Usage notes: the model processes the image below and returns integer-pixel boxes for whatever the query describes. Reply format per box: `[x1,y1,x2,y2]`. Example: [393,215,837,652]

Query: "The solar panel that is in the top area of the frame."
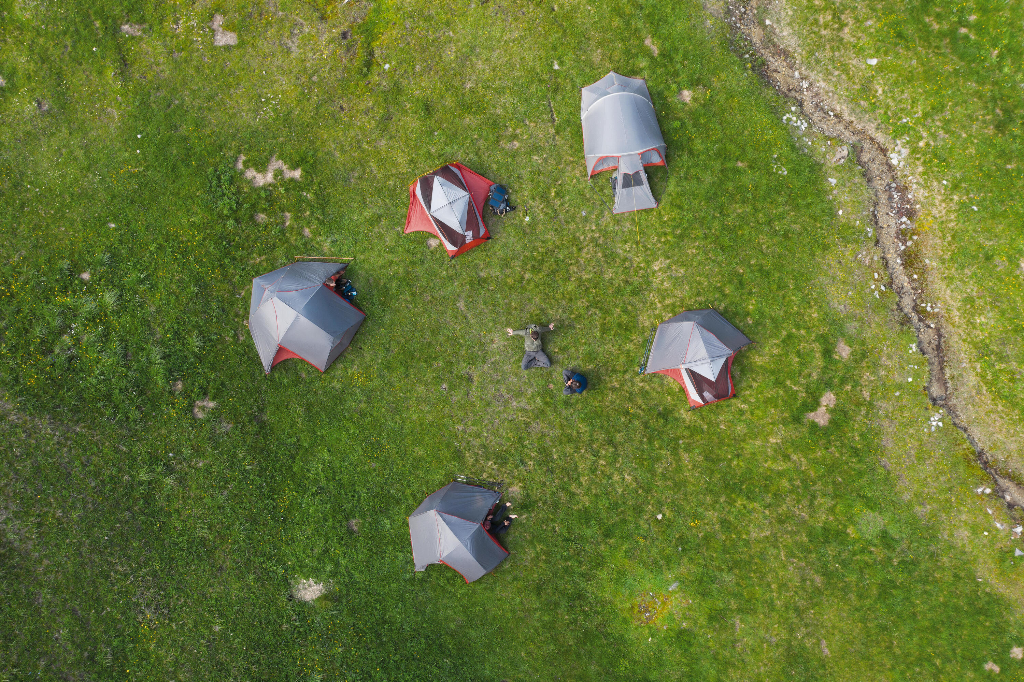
[489,186,507,208]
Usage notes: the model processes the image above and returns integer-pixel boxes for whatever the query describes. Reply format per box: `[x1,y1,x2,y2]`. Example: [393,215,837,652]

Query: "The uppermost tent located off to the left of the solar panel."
[401,160,495,262]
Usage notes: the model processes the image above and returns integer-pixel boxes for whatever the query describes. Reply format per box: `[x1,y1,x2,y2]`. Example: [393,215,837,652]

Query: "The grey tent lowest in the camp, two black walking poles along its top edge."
[406,479,513,584]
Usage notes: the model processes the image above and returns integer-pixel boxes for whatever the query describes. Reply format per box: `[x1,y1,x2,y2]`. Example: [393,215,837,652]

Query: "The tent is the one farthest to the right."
[643,304,755,415]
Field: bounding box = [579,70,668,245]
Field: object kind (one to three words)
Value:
tent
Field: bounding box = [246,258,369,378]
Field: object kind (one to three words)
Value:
tent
